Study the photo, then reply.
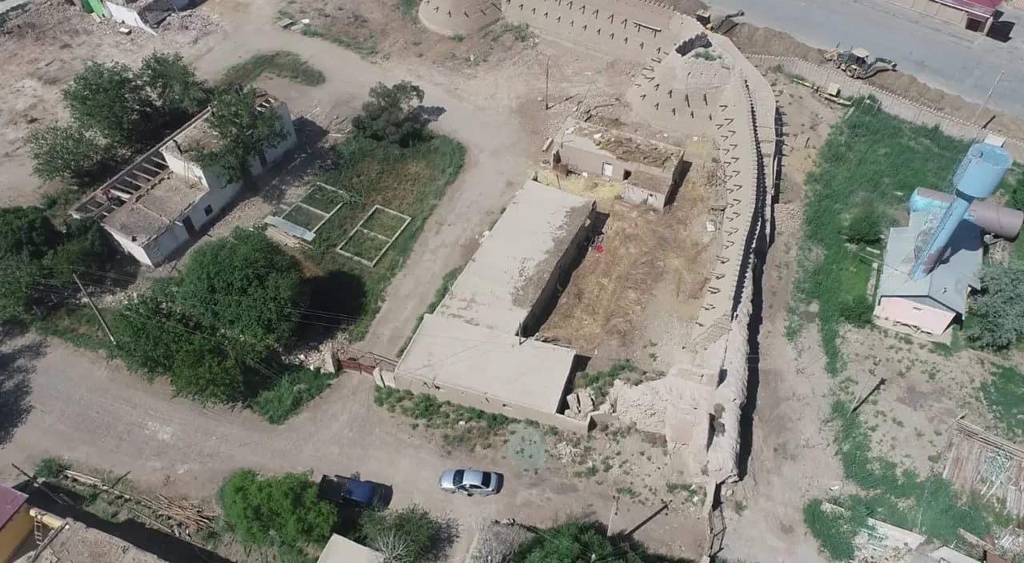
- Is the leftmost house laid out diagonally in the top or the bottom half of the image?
top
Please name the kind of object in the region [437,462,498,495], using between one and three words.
car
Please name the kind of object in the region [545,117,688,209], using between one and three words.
house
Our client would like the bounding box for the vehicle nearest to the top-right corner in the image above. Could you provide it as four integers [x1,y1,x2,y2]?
[818,44,897,71]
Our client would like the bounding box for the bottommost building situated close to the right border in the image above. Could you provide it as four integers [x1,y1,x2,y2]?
[874,215,983,344]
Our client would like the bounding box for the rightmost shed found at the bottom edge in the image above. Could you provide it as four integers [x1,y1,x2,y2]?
[319,533,392,563]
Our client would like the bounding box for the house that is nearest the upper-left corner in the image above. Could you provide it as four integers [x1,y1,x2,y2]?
[68,89,295,268]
